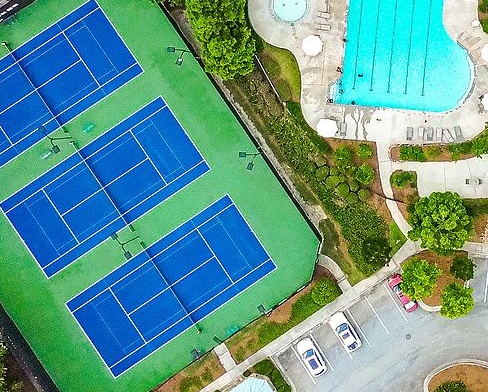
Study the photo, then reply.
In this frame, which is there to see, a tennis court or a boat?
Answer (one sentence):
The one in the frame is a tennis court.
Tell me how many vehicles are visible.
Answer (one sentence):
In total, there are 3 vehicles in the scene.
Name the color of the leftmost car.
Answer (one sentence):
The leftmost car looks white in the image.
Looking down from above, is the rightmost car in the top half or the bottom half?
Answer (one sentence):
You can find the rightmost car in the bottom half.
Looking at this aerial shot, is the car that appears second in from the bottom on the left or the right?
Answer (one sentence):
You can find the car that appears second in from the bottom on the right side of the picture.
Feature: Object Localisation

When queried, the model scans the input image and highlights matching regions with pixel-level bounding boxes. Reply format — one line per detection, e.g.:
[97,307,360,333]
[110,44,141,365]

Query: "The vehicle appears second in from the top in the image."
[329,310,363,351]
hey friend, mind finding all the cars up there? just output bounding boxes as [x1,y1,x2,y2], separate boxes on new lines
[294,338,328,378]
[385,271,421,314]
[329,310,363,351]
